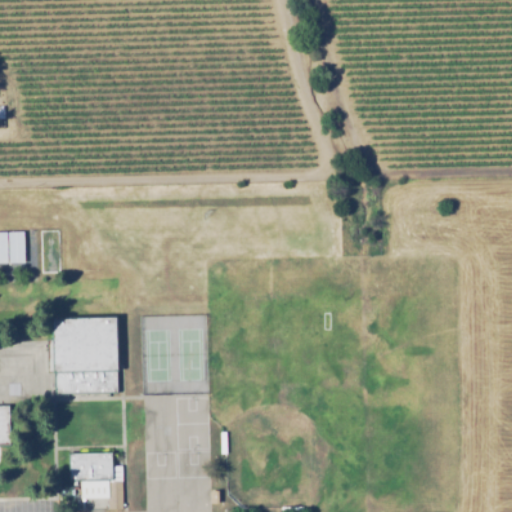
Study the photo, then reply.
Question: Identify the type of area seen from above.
sports ground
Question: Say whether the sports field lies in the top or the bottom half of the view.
bottom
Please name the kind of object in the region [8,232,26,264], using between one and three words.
building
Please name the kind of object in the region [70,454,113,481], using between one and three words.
building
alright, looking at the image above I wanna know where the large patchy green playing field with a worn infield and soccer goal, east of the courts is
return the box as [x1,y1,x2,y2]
[214,260,457,512]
